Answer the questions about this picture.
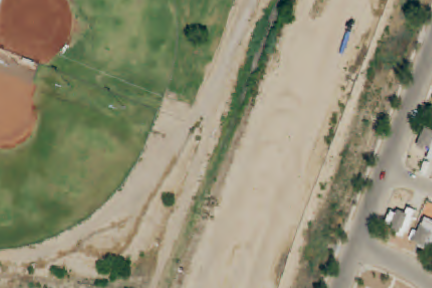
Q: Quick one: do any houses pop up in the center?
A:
No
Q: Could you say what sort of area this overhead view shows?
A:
sports ground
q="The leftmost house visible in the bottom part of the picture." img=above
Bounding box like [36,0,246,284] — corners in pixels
[387,206,416,238]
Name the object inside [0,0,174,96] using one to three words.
baseball field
